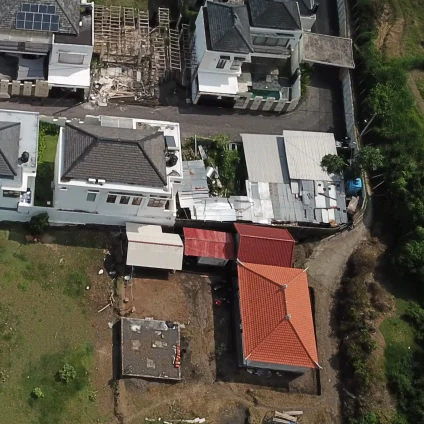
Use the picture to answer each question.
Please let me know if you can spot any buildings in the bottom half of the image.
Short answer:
Yes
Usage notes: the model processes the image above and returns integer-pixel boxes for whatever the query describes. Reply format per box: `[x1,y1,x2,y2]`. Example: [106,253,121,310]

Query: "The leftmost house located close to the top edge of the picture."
[0,0,96,103]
